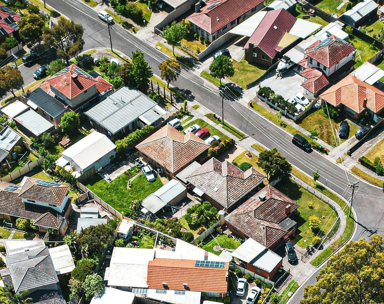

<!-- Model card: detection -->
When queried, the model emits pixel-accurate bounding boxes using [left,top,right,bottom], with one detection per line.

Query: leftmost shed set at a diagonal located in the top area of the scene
[5,91,55,145]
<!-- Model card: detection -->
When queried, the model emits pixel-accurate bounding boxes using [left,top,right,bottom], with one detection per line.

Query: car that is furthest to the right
[352,126,375,140]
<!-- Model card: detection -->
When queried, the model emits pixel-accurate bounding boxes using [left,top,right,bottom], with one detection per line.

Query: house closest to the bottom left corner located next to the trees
[1,240,77,304]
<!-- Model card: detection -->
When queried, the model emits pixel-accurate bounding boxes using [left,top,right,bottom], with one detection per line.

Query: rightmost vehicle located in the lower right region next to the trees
[285,242,297,264]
